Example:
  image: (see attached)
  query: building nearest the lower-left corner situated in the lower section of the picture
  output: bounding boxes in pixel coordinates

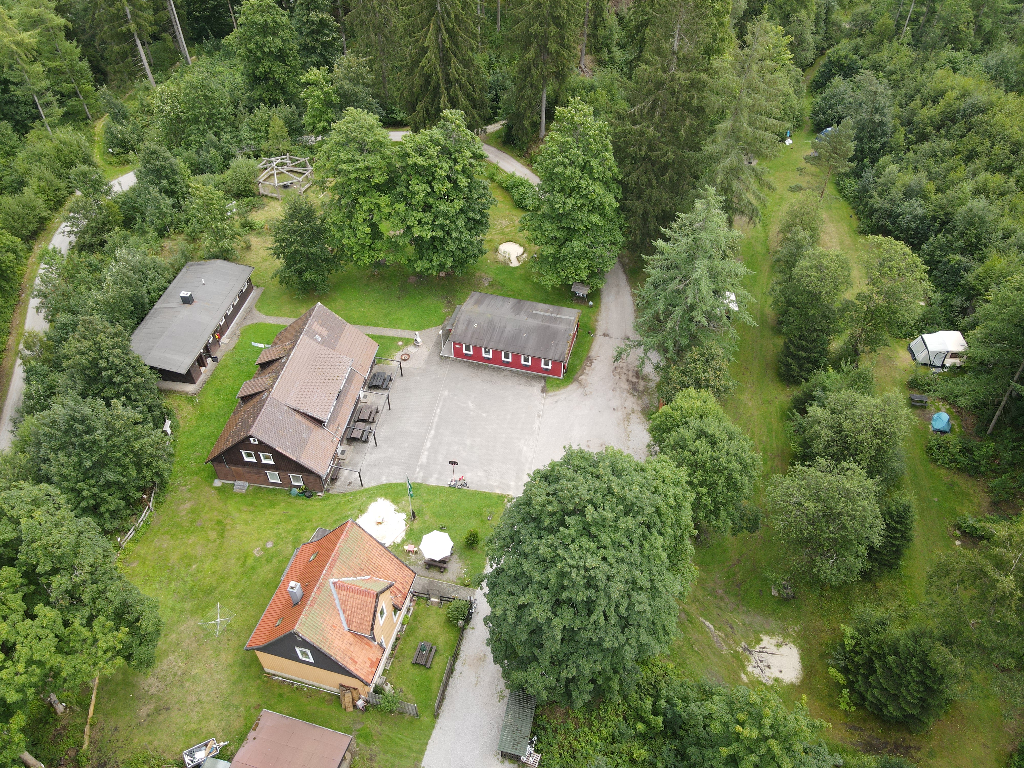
[230,708,353,768]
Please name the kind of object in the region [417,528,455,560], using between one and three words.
umbrella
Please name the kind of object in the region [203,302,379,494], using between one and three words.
house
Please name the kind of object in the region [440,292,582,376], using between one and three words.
house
